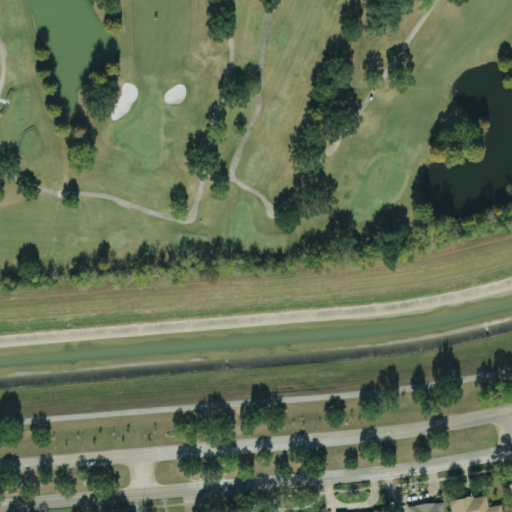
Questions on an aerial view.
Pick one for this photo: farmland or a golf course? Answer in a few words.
golf course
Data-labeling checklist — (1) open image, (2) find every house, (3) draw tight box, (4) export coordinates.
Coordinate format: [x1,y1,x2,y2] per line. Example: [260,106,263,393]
[409,501,446,512]
[450,498,504,512]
